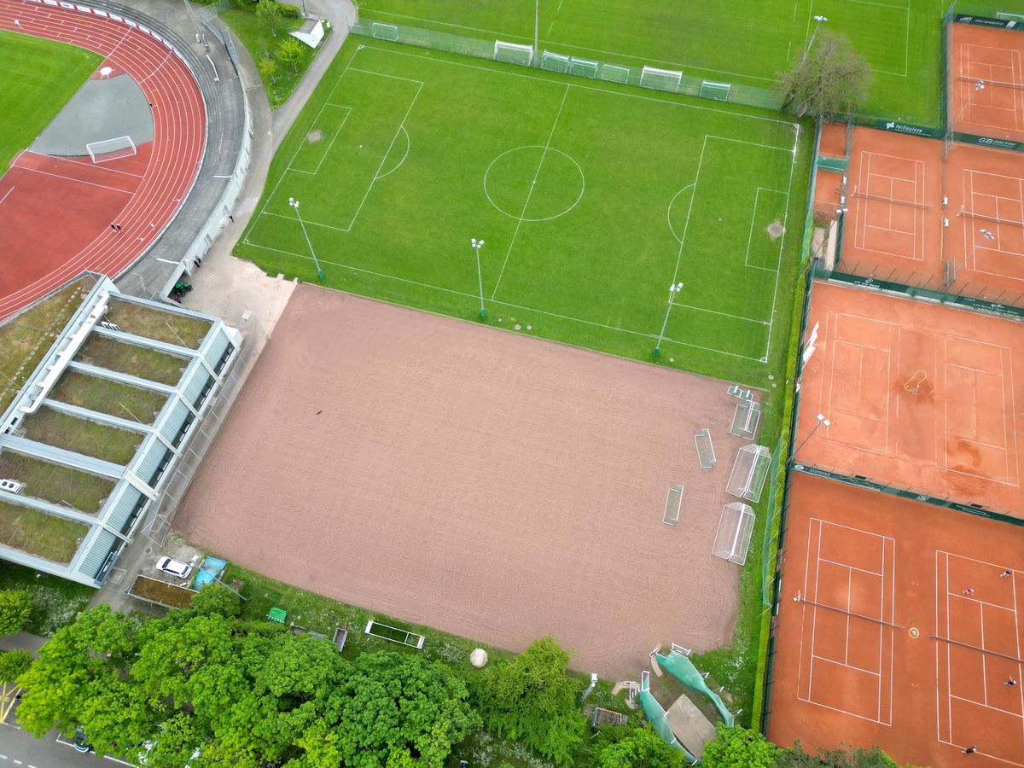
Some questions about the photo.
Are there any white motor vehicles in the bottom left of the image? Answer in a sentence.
Yes, a white motor vehicle can be seen in the bottom left of the image.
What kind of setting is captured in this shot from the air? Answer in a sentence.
The picture captures a sports ground.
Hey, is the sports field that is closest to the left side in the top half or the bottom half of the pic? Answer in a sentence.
It is in the top half that the sports field that is closest to the left side appears.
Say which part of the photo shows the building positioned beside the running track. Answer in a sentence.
The building positioned beside the running track sits in the left section of the image.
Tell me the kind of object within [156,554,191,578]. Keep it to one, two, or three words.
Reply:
car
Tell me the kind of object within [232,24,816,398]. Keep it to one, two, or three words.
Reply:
soccer field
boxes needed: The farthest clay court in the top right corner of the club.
[954,23,1024,141]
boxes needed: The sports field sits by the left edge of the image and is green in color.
[0,31,105,180]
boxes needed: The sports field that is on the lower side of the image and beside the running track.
[174,284,765,677]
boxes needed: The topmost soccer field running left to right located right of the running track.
[355,0,952,138]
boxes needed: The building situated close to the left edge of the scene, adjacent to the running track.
[0,270,242,593]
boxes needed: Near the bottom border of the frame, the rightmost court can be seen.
[914,500,1024,768]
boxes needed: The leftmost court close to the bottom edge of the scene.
[764,470,917,768]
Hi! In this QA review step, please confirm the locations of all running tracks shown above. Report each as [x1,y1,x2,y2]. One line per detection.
[0,9,207,323]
